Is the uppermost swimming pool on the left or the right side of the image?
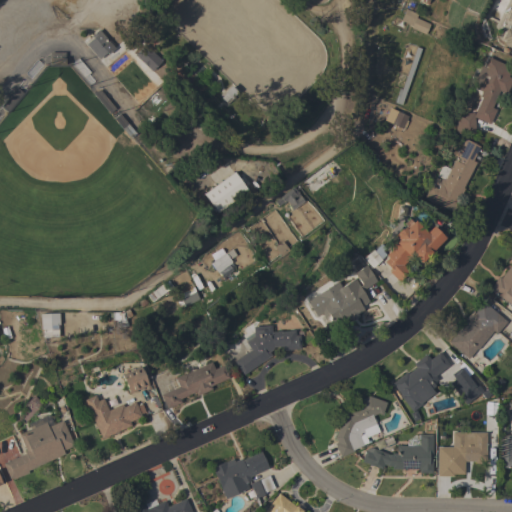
right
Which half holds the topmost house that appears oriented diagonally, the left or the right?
right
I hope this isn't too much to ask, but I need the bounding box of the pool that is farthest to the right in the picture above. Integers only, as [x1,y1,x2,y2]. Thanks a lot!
[484,339,504,361]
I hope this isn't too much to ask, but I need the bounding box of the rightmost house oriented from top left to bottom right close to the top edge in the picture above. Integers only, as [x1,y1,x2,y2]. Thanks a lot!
[403,10,432,34]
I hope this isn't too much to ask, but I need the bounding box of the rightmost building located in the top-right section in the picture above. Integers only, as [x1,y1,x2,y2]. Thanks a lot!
[458,58,512,133]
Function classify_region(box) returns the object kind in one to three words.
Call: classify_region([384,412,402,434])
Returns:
swimming pool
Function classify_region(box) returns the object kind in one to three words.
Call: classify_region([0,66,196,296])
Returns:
baseball field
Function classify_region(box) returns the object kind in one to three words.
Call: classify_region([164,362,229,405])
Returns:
house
